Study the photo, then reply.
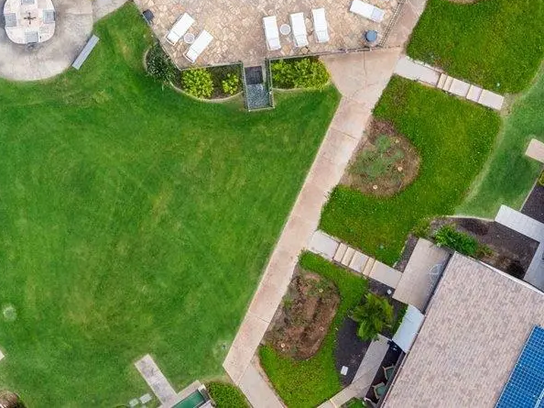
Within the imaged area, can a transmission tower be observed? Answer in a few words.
No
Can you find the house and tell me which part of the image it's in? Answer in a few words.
bottom right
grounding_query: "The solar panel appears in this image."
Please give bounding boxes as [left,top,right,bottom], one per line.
[497,327,544,408]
